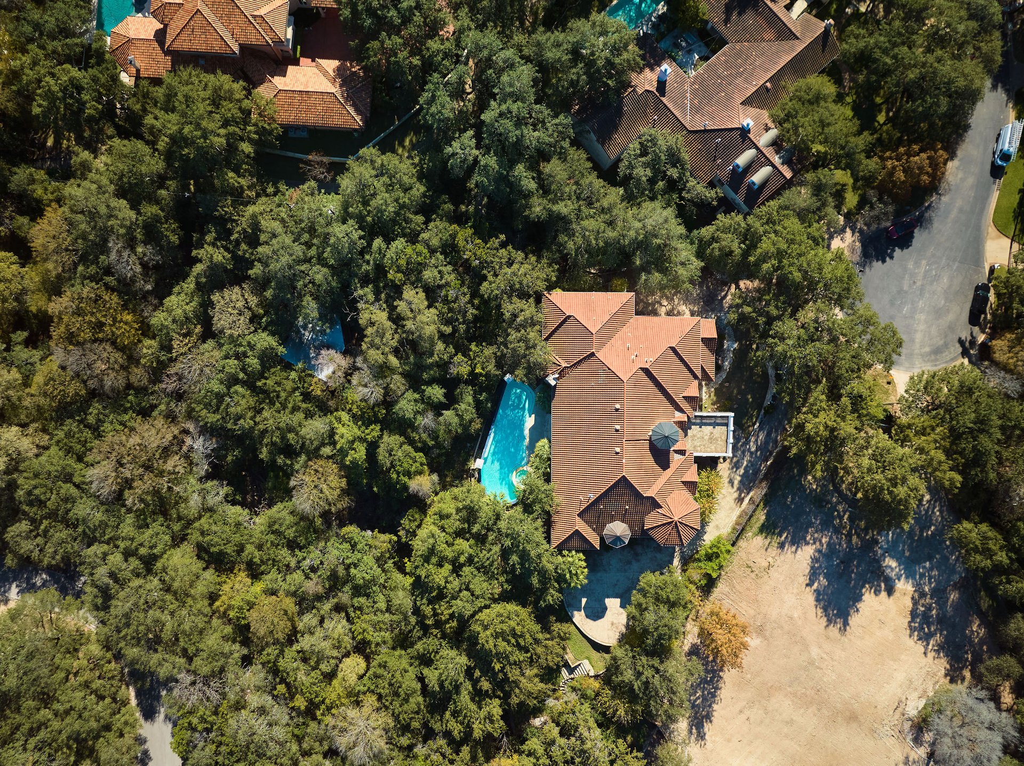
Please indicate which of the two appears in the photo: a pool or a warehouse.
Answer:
pool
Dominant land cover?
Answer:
trees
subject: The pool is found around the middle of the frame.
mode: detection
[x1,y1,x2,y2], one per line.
[474,373,537,506]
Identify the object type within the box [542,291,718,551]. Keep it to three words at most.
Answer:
house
